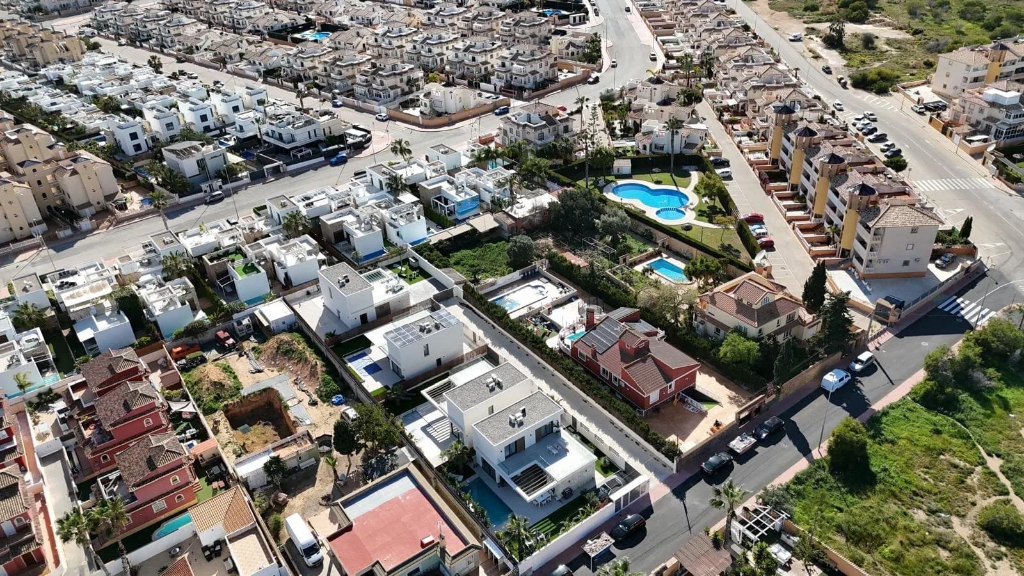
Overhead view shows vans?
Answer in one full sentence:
Yes, this view includes a van.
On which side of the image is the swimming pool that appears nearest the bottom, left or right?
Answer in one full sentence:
The swimming pool that appears nearest the bottom appears in the left half of the scene.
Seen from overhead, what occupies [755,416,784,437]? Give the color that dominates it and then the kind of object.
black car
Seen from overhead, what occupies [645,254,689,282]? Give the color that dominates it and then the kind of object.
blue swimming pool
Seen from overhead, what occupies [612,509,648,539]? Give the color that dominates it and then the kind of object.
black car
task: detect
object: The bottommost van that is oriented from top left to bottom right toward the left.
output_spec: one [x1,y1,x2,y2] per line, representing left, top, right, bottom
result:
[281,510,318,559]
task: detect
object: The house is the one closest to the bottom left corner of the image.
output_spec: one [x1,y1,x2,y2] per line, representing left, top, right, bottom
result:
[0,451,52,539]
